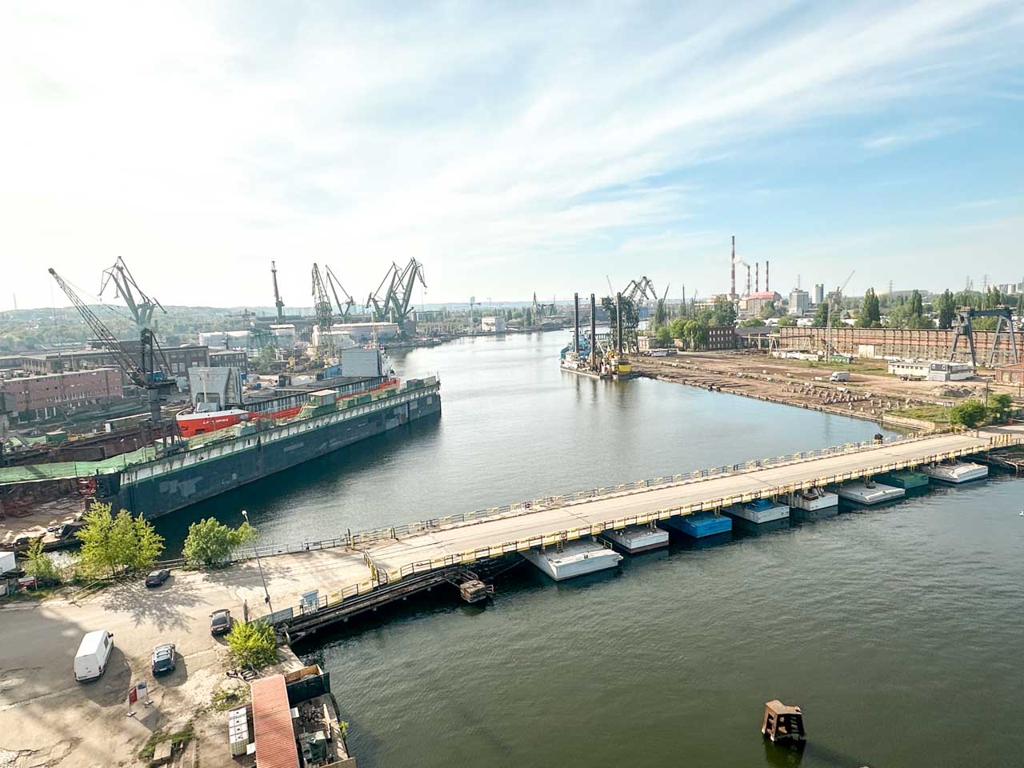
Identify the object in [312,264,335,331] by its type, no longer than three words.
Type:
crane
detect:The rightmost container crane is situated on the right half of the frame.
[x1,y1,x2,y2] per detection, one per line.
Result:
[947,302,1021,366]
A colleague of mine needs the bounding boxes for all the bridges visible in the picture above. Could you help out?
[346,427,1018,590]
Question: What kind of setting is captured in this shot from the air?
port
